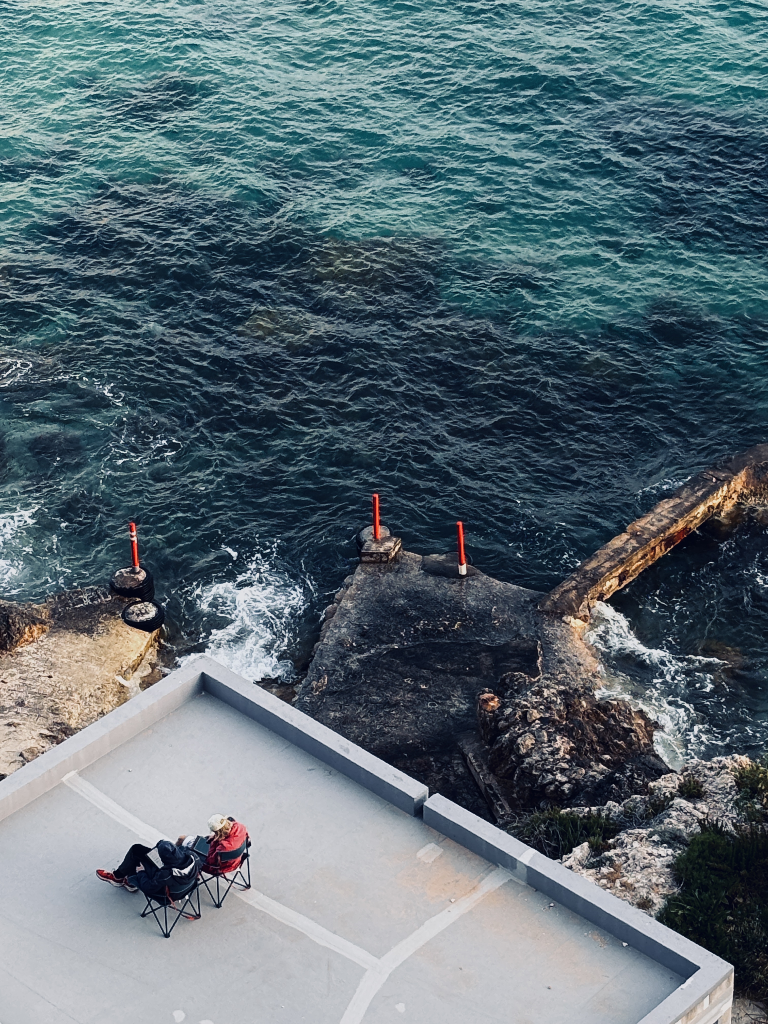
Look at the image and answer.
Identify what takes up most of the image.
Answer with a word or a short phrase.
water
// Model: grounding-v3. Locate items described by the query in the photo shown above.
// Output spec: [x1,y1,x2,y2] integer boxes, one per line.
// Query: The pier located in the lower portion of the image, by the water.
[293,550,606,811]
